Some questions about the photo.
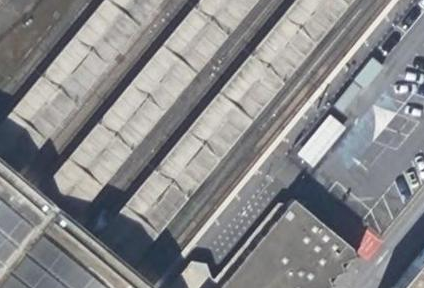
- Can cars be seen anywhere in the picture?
Yes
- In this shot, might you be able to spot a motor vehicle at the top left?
No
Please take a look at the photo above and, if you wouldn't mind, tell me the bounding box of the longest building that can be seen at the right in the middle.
[298,116,346,168]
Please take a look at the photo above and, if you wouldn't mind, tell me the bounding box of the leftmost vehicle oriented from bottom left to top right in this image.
[382,32,402,52]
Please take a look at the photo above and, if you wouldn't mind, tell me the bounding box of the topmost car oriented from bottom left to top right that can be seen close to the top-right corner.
[402,5,422,28]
